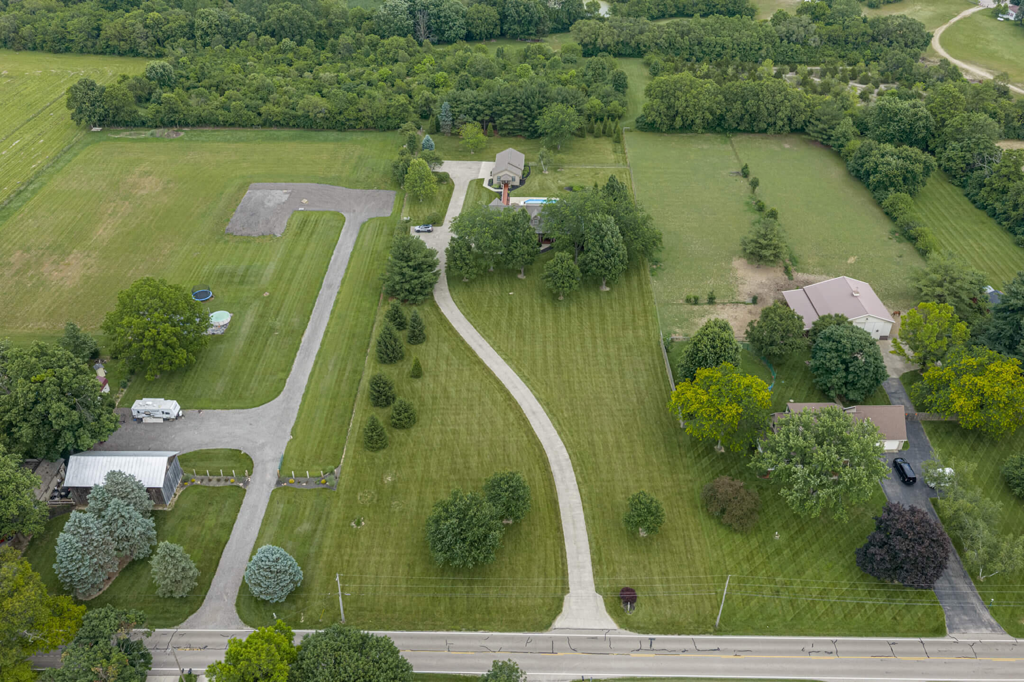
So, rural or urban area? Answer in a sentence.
The land in this view is best described as rural.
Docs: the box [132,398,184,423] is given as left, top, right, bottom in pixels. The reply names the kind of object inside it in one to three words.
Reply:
camper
